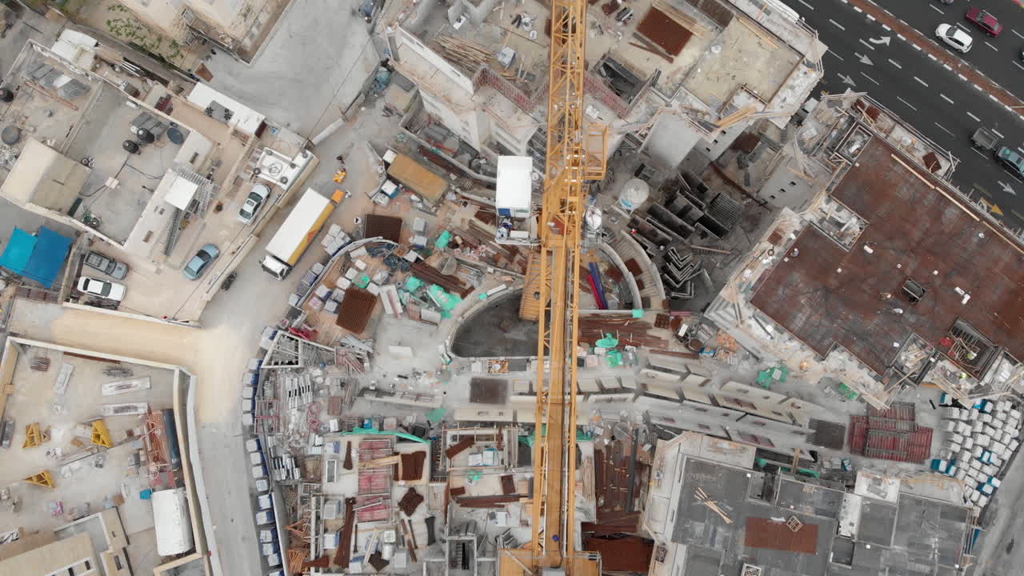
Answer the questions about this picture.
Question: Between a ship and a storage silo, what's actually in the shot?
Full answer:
It is a storage silo that can be seen here.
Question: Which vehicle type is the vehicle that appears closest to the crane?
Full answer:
It looks like the vehicle that appears closest to the crane is a truck.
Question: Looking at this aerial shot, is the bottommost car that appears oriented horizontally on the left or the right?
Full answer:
It is on the left.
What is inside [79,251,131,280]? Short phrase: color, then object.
gray truck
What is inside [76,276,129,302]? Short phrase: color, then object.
white car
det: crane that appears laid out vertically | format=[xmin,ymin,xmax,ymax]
[495,0,610,576]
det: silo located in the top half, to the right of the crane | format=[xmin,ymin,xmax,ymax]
[611,182,648,220]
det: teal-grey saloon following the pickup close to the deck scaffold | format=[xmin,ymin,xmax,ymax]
[994,146,1024,180]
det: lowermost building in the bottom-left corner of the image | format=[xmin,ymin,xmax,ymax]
[0,503,150,576]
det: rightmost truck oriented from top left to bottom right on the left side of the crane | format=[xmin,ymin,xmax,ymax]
[382,145,451,204]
